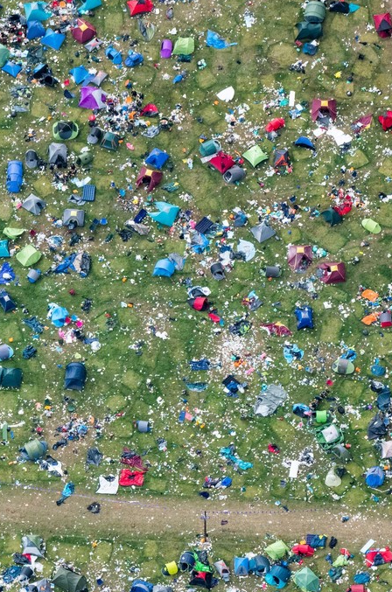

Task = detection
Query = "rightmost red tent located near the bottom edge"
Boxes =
[363,548,392,567]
